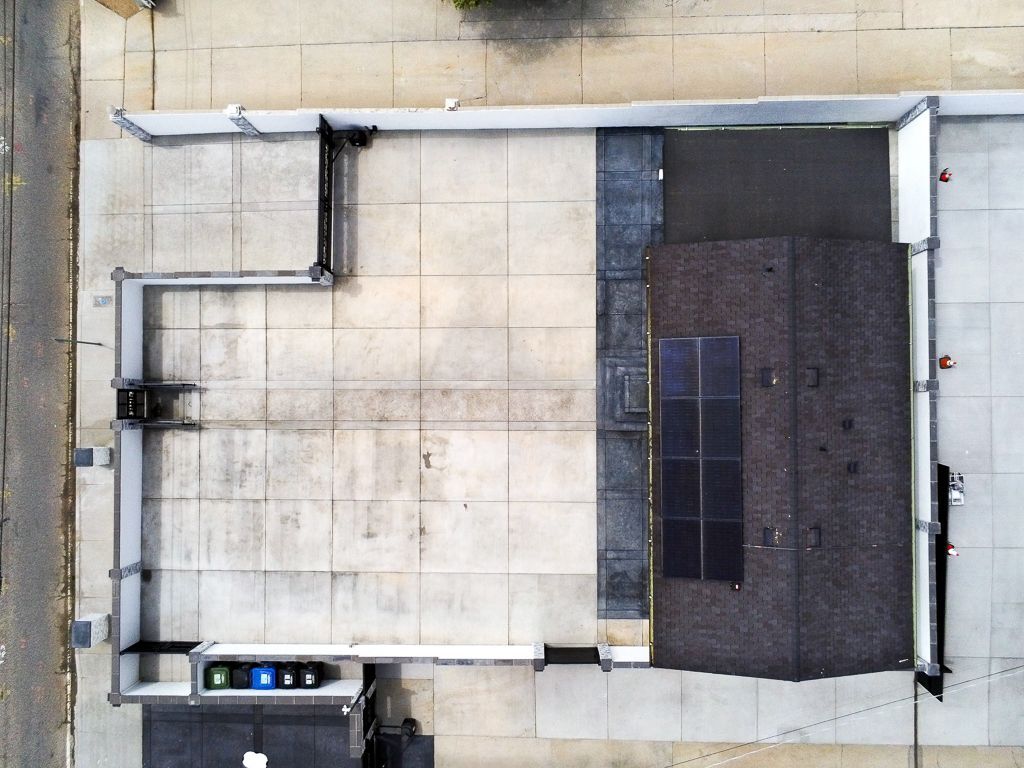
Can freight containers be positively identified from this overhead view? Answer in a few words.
No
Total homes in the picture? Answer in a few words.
1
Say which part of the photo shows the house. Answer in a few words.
right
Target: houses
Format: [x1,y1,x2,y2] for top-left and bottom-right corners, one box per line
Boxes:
[648,236,915,683]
